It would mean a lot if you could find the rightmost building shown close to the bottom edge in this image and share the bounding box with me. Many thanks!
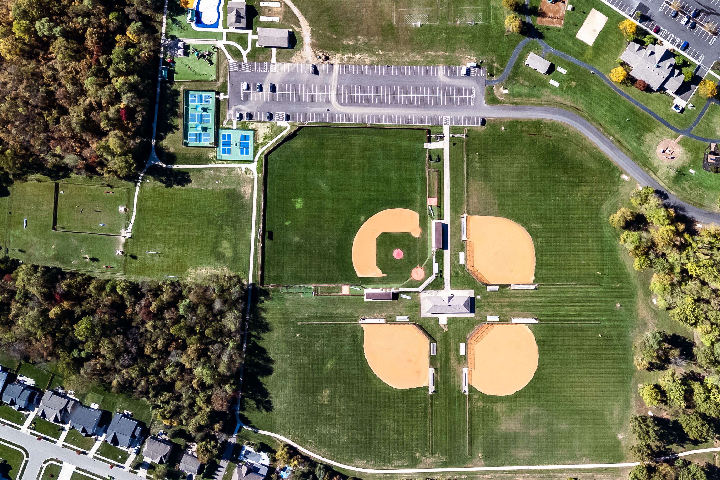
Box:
[233,460,268,480]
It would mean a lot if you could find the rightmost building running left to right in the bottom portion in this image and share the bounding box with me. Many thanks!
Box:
[426,296,470,312]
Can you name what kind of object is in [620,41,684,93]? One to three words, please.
building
